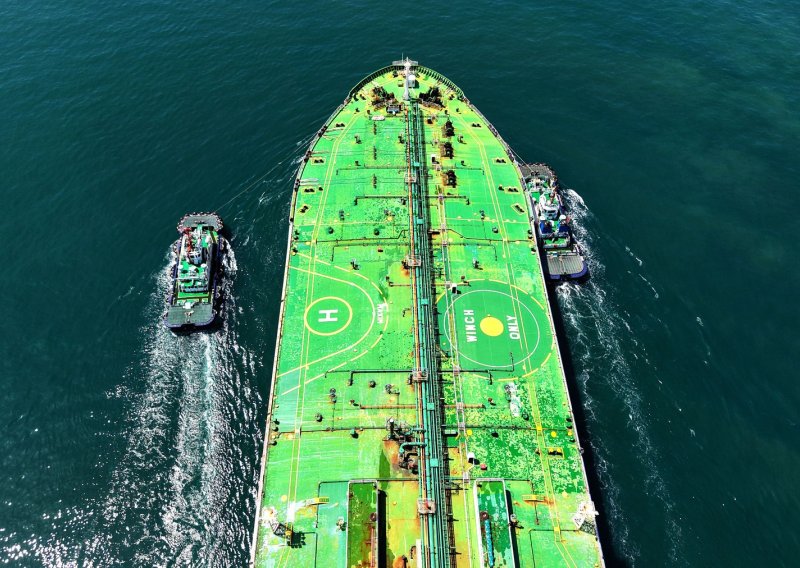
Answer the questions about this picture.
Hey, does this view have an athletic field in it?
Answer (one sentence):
No, I can't see a single athletic field in this photo.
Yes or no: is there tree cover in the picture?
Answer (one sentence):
No, no tree cover is visible.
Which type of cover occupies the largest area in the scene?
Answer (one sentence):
What you mostly see from above here is water.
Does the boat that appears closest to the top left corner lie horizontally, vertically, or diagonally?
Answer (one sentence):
In this picture, the boat that appears closest to the top left corner lies vertically.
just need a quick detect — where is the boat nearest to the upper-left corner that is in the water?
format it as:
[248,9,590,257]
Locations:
[162,209,223,328]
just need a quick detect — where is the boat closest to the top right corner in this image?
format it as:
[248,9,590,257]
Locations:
[516,159,588,278]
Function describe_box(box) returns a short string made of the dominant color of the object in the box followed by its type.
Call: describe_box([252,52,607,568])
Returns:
green ship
